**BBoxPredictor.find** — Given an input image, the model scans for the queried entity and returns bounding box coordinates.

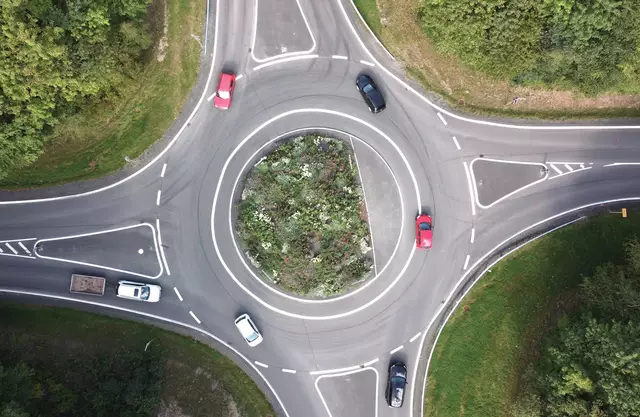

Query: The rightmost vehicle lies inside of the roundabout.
[415,213,434,248]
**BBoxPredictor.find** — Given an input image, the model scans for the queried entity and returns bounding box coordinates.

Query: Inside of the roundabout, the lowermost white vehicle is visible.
[236,314,263,346]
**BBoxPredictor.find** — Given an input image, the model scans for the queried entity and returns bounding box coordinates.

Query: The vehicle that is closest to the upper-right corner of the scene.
[357,76,386,114]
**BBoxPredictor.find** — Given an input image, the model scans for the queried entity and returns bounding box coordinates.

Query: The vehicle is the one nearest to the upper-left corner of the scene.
[214,73,236,109]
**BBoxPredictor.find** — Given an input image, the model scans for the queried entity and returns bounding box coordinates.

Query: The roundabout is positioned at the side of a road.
[156,54,475,374]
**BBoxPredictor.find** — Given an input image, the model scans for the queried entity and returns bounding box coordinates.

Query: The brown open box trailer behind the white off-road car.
[71,274,117,296]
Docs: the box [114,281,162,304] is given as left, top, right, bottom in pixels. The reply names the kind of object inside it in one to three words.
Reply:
car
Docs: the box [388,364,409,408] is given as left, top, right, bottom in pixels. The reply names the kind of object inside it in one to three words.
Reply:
car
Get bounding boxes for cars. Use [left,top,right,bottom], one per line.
[214,73,236,109]
[415,213,434,248]
[236,314,263,346]
[357,76,386,114]
[388,364,409,408]
[114,281,162,304]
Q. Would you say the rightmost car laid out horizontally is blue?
No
